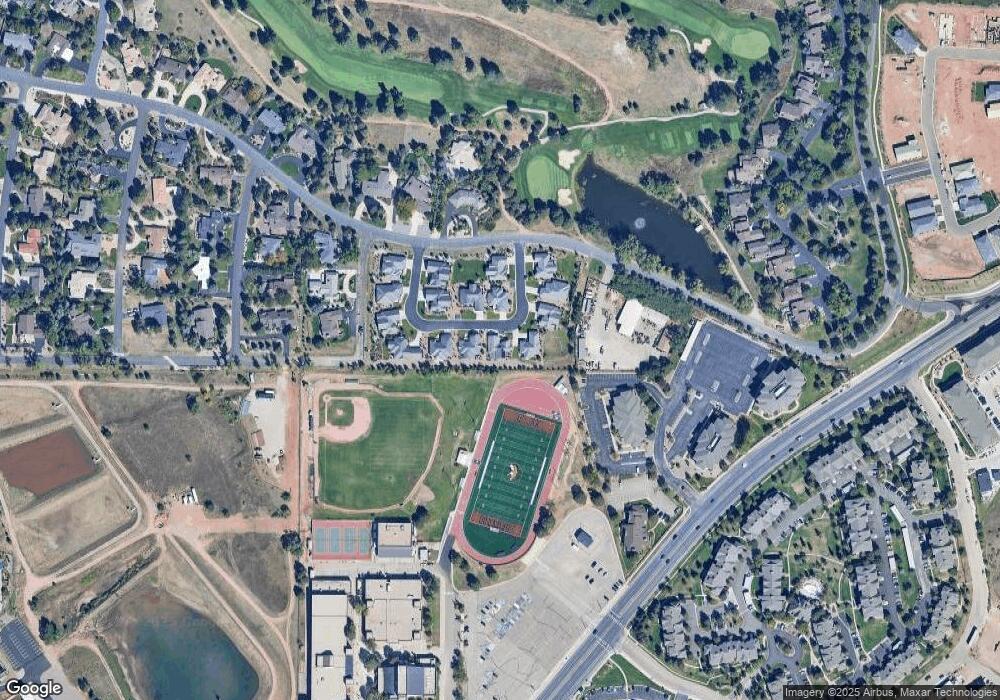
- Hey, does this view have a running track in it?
Yes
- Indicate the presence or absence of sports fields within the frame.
Yes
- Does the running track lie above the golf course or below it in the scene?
below it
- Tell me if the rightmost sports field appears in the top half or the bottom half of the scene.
bottom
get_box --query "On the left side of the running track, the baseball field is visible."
[312,381,444,514]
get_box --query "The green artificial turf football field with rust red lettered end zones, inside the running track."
[465,399,562,556]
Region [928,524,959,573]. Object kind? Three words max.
house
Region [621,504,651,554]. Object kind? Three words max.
building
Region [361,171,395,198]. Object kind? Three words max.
house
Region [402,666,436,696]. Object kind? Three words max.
building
